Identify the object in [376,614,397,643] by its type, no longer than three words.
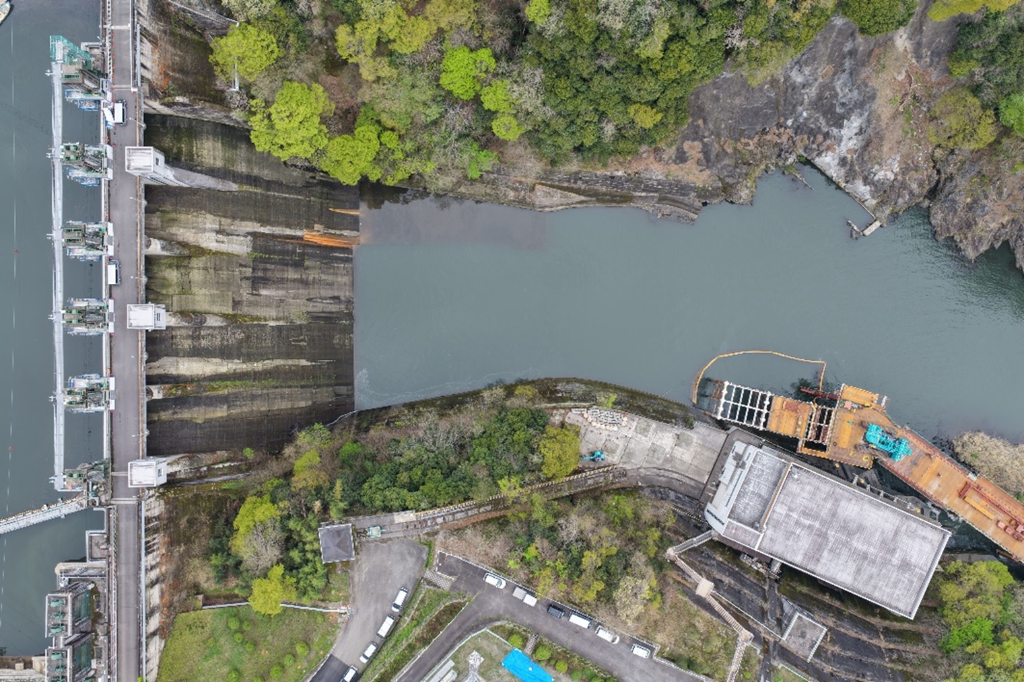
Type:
vehicle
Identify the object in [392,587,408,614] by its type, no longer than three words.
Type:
car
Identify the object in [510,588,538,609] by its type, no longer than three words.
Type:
truck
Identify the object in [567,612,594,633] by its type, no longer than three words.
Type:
vehicle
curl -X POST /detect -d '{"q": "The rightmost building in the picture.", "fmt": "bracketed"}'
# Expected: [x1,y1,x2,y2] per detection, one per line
[698,441,953,621]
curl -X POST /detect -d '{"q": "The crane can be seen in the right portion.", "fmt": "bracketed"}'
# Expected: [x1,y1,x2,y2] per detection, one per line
[855,417,912,462]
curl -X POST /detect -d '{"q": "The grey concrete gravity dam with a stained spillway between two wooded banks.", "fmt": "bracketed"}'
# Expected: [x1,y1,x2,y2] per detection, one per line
[94,0,361,682]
